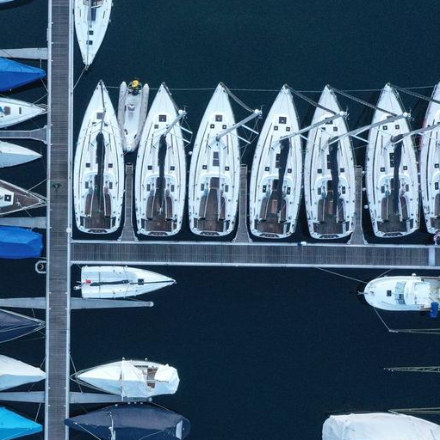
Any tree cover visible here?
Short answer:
No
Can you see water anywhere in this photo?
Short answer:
Yes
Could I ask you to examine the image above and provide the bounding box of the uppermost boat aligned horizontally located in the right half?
[317,269,440,330]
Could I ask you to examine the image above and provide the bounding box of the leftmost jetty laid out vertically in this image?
[36,0,73,440]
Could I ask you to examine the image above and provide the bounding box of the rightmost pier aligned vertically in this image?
[348,166,367,242]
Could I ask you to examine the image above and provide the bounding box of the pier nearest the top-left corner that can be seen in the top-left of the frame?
[0,47,48,60]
